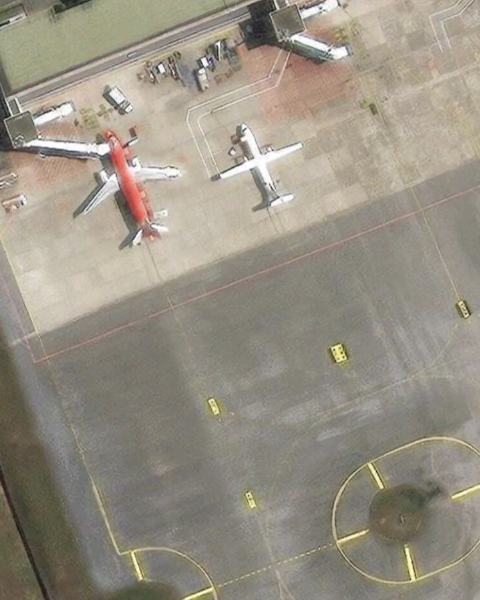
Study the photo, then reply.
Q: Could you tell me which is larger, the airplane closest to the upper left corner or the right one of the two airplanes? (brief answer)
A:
the airplane closest to the upper left corner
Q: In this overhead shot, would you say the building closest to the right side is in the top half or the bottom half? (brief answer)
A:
top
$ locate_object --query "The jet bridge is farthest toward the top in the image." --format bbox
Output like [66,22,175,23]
[300,0,341,19]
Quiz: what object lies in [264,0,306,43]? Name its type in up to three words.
building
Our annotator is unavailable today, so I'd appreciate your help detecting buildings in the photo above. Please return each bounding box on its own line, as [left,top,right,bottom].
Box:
[0,0,258,101]
[264,0,306,43]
